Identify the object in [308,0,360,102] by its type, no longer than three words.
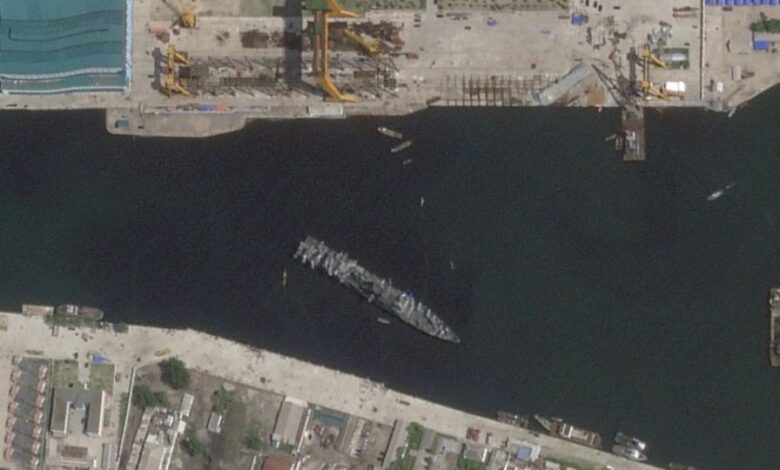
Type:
container crane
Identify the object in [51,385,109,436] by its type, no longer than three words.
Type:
building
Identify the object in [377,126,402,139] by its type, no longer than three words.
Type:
boat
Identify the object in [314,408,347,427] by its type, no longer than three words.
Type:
shed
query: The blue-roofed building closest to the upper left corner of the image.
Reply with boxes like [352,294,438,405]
[0,0,133,94]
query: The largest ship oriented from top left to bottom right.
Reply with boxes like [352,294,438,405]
[294,240,459,344]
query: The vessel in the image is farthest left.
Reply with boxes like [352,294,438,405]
[21,303,54,315]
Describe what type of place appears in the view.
port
